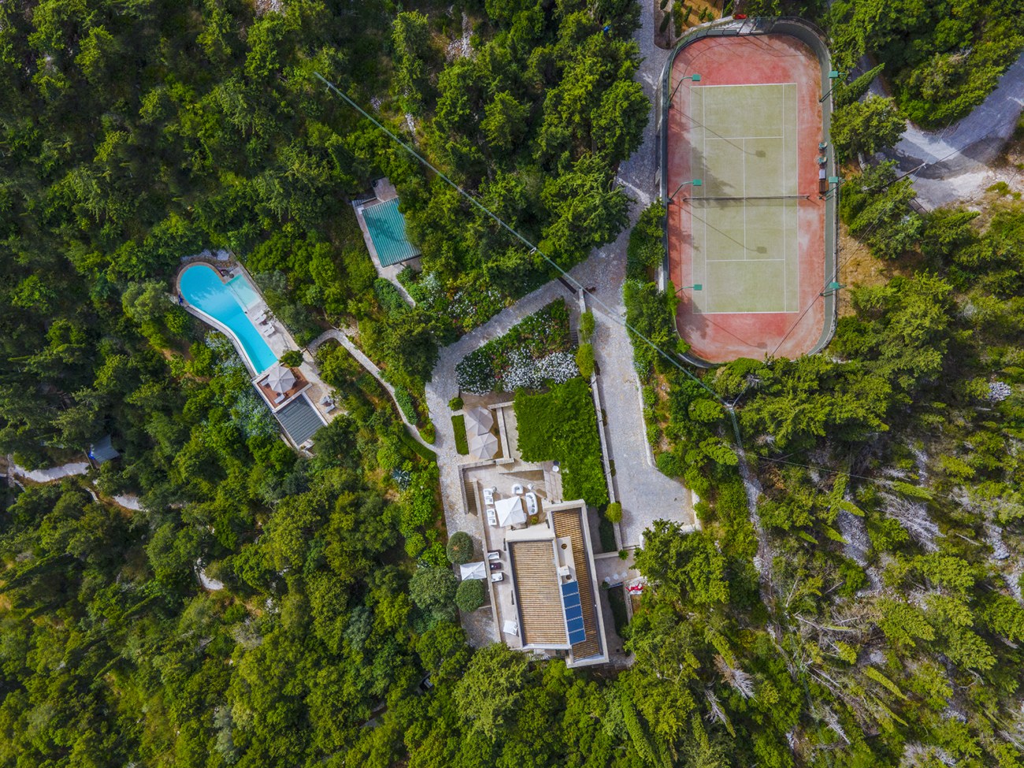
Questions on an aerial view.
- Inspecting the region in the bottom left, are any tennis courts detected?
No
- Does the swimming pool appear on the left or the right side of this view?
left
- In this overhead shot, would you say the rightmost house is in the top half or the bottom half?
bottom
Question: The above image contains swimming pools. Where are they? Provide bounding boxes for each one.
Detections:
[176,261,282,379]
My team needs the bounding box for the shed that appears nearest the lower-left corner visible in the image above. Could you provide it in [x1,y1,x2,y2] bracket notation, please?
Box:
[94,434,131,463]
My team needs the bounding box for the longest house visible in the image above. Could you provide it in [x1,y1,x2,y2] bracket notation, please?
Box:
[504,498,609,668]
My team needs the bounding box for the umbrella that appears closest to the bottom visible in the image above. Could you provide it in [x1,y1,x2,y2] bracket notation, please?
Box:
[462,560,485,579]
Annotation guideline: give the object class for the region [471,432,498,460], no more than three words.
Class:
umbrella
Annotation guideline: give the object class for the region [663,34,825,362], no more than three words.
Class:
tennis court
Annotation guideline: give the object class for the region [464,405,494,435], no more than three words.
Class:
umbrella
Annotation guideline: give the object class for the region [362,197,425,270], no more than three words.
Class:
building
